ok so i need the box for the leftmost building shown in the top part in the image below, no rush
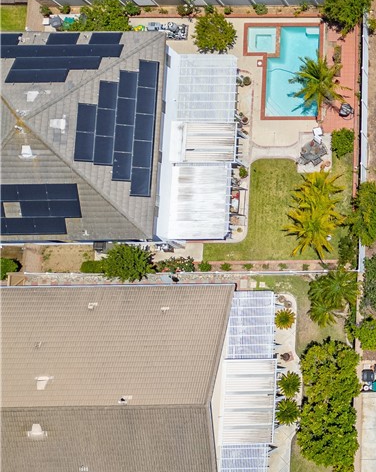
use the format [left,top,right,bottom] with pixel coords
[0,30,184,247]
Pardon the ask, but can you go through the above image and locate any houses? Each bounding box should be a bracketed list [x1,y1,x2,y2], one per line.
[0,283,235,472]
[0,30,184,247]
